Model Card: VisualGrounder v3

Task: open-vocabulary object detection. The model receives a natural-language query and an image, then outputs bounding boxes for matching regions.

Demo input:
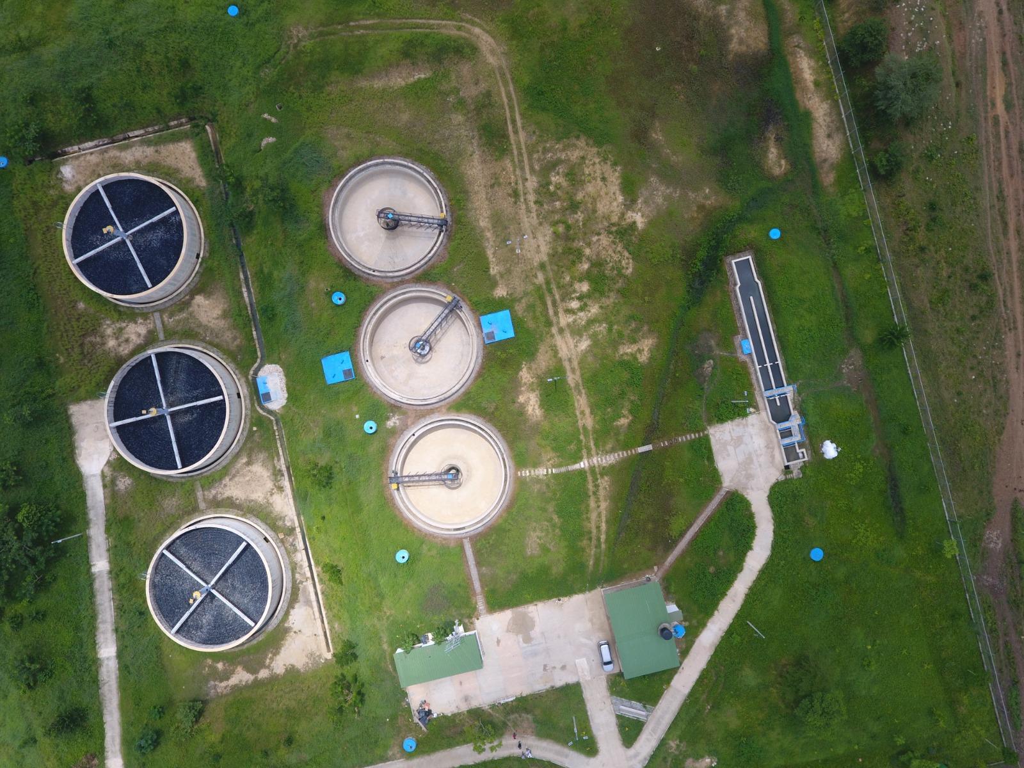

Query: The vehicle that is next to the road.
[597,638,616,673]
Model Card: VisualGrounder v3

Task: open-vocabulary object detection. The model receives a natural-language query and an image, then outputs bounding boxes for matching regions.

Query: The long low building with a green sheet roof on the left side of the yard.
[393,627,483,688]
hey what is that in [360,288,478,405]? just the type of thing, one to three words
storage tank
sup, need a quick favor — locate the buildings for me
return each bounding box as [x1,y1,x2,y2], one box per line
[393,627,483,688]
[605,581,680,680]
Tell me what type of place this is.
industrial area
